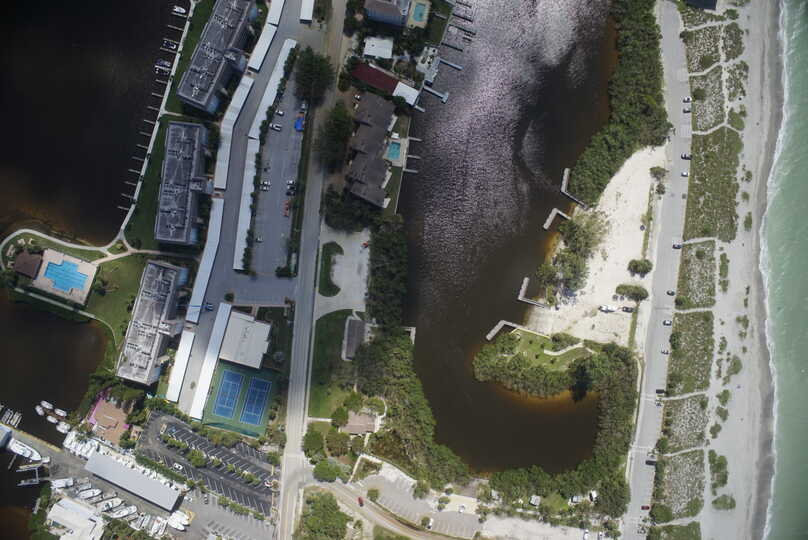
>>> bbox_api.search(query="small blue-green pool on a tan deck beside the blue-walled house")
[407,0,431,28]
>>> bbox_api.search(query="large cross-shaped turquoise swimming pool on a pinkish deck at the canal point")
[32,249,98,305]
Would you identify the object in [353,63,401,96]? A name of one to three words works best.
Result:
house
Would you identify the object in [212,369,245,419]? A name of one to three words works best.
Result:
tennis court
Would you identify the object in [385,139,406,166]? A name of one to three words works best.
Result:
swimming pool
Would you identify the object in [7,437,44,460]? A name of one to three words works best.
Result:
boat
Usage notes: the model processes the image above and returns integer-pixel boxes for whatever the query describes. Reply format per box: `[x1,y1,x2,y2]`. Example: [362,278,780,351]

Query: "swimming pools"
[32,249,98,305]
[385,139,406,166]
[407,0,431,28]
